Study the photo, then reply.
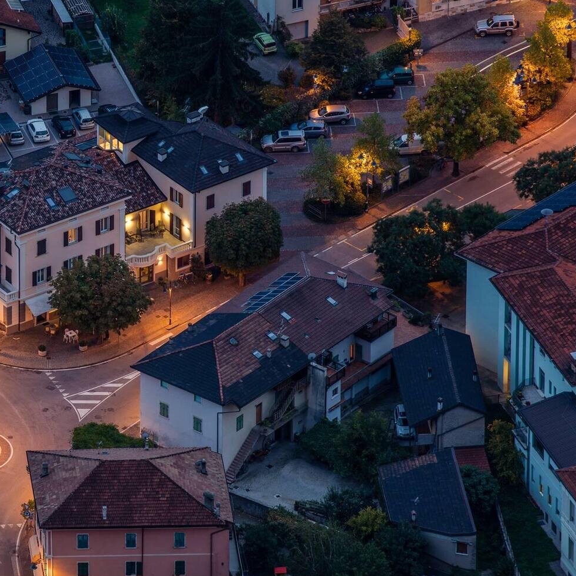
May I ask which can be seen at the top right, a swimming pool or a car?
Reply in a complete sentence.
It is a car that can be seen at the top right.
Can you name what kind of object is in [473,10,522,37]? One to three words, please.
car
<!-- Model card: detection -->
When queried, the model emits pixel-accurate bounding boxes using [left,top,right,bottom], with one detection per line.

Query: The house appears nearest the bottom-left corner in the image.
[23,446,233,576]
